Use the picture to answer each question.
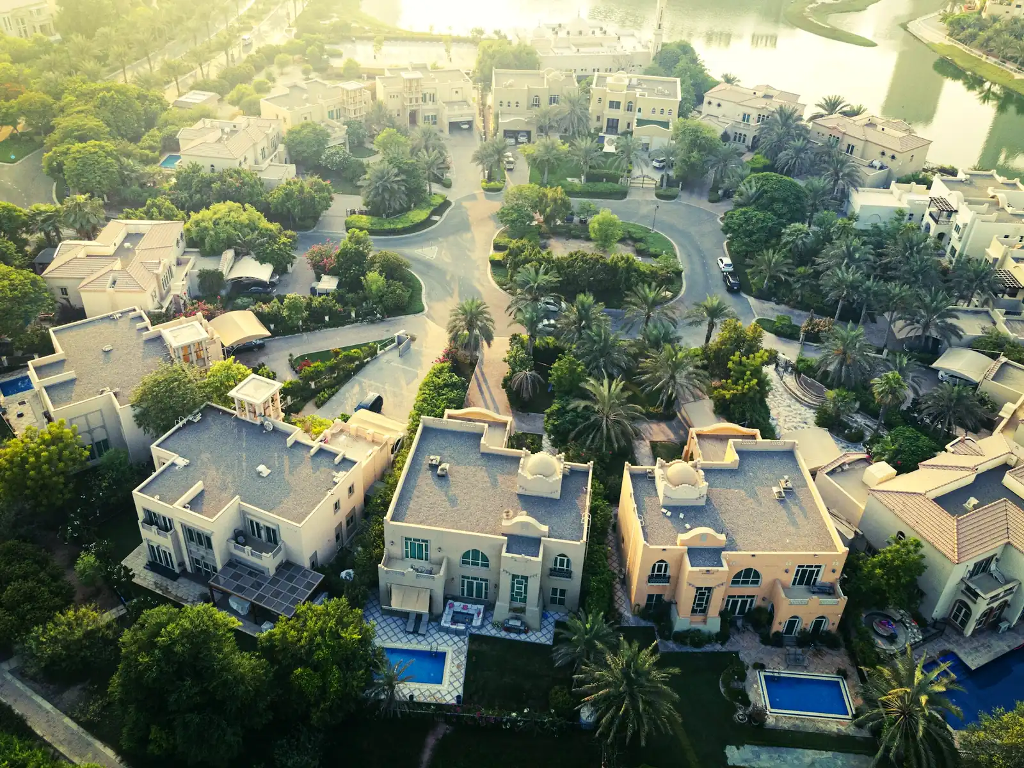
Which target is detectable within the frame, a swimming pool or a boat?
swimming pool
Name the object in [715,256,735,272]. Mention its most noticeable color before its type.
white car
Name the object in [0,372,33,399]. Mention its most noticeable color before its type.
blue swimming pool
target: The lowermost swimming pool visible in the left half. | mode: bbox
[355,636,456,693]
